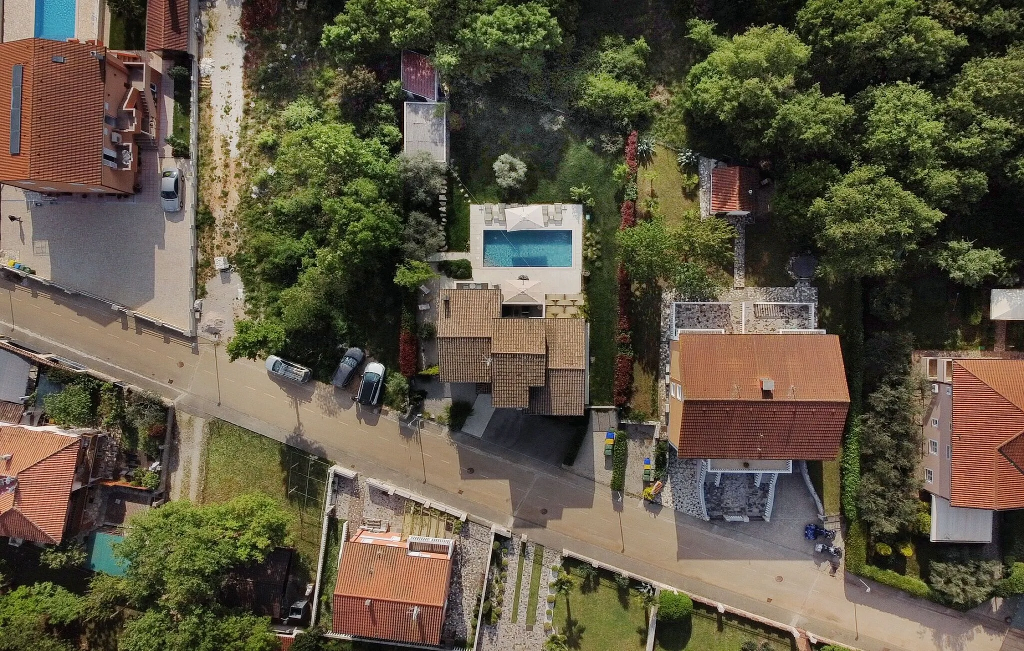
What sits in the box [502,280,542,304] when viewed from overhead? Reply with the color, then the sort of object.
white umbrella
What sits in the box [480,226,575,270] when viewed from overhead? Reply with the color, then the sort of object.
blue swimming pool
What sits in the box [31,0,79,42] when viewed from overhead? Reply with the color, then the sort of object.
blue swimming pool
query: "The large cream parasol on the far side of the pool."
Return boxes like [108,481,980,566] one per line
[504,205,545,232]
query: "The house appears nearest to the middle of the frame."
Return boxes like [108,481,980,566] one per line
[436,289,586,416]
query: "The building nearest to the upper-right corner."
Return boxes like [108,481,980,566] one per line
[971,289,1024,320]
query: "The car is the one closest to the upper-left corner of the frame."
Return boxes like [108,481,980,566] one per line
[158,167,182,212]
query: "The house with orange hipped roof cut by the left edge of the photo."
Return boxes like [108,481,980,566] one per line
[0,422,101,544]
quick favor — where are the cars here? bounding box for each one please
[263,357,311,387]
[357,362,384,408]
[332,349,361,392]
[158,167,182,212]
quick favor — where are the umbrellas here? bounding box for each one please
[504,205,545,232]
[502,280,542,304]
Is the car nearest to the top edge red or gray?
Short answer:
gray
